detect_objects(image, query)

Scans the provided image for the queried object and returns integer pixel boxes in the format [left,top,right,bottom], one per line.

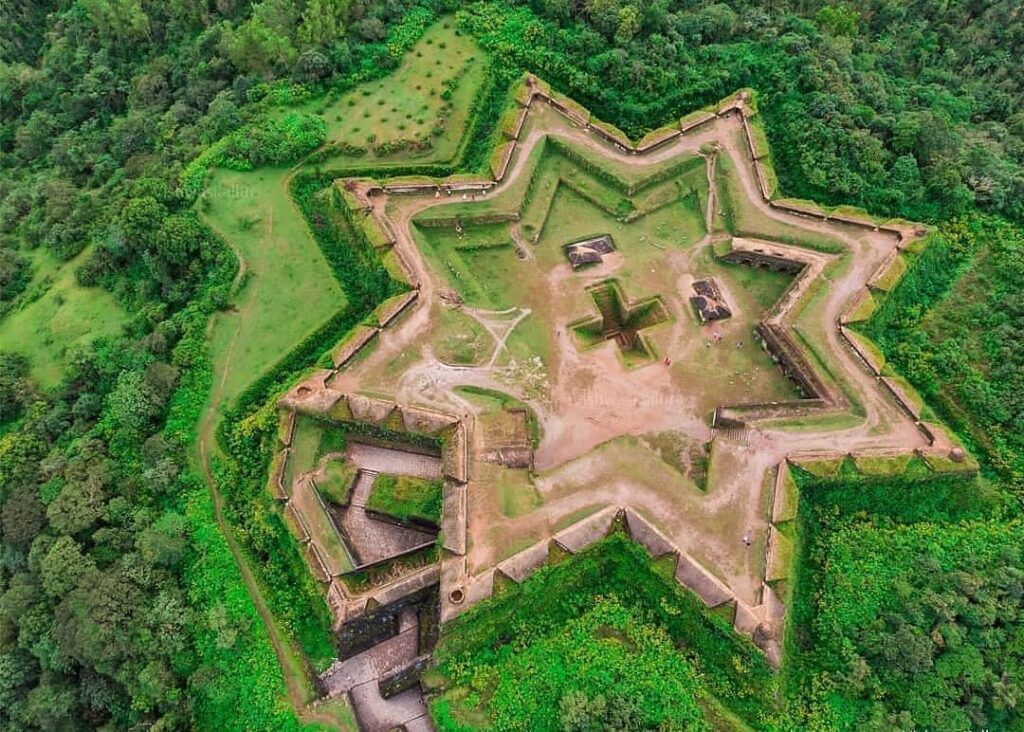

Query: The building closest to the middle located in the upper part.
[565,234,616,271]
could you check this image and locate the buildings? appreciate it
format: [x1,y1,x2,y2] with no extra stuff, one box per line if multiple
[688,277,734,324]
[711,236,850,429]
[565,234,616,271]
